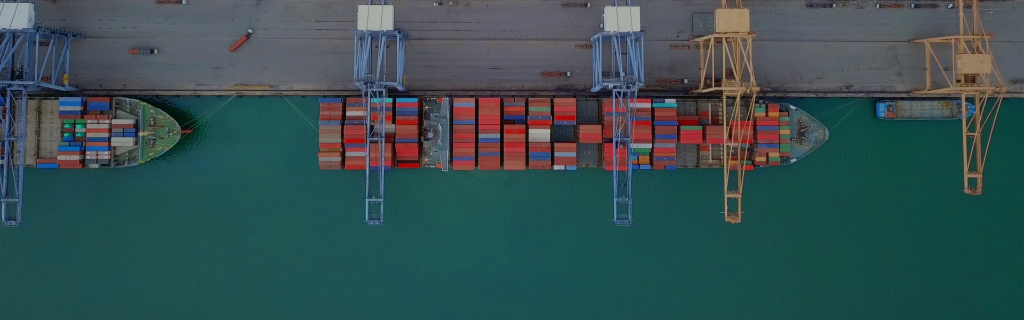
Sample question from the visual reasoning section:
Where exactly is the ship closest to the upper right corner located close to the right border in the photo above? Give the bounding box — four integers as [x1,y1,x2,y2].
[876,100,975,119]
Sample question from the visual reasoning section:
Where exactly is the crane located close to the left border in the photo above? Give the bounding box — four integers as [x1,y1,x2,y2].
[0,0,89,230]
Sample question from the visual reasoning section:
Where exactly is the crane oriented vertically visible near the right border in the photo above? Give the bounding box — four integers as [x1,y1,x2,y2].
[908,0,1007,195]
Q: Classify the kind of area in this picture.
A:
port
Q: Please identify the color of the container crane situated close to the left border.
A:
blue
